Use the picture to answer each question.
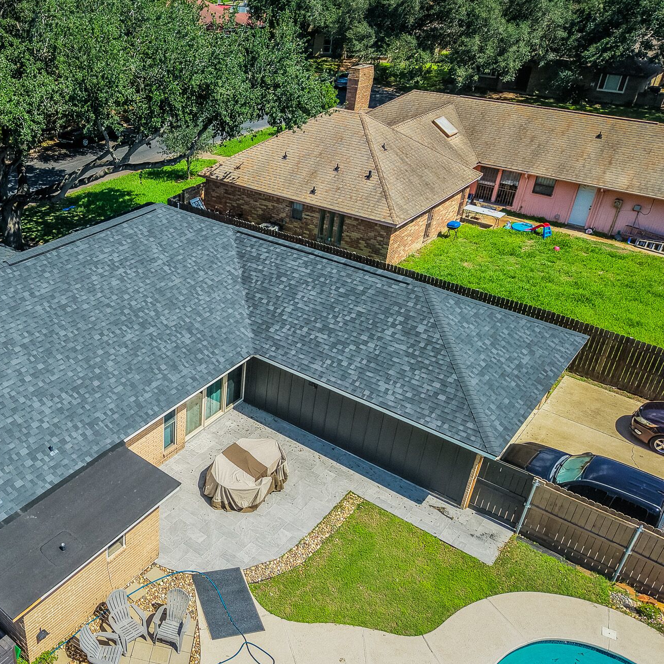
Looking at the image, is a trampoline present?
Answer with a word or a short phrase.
No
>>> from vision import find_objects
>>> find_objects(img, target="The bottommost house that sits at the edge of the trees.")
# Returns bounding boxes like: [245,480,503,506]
[0,201,592,663]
